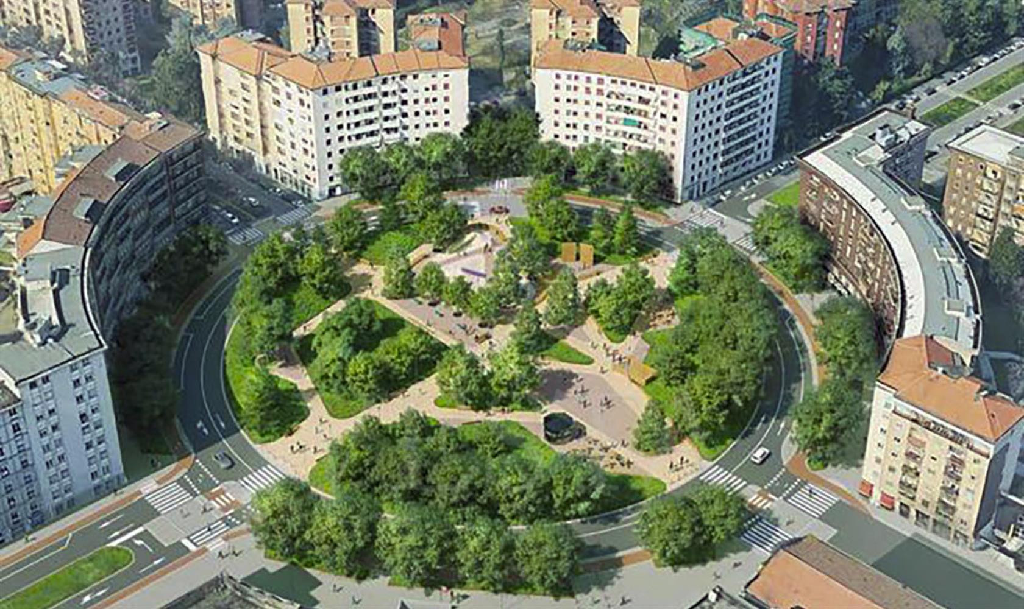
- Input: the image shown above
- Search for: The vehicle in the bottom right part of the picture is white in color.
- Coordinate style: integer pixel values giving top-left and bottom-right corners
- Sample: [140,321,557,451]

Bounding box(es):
[750,446,770,463]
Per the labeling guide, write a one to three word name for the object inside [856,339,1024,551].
building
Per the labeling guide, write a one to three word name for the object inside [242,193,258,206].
vehicle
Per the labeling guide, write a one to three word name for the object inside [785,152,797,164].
vehicle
